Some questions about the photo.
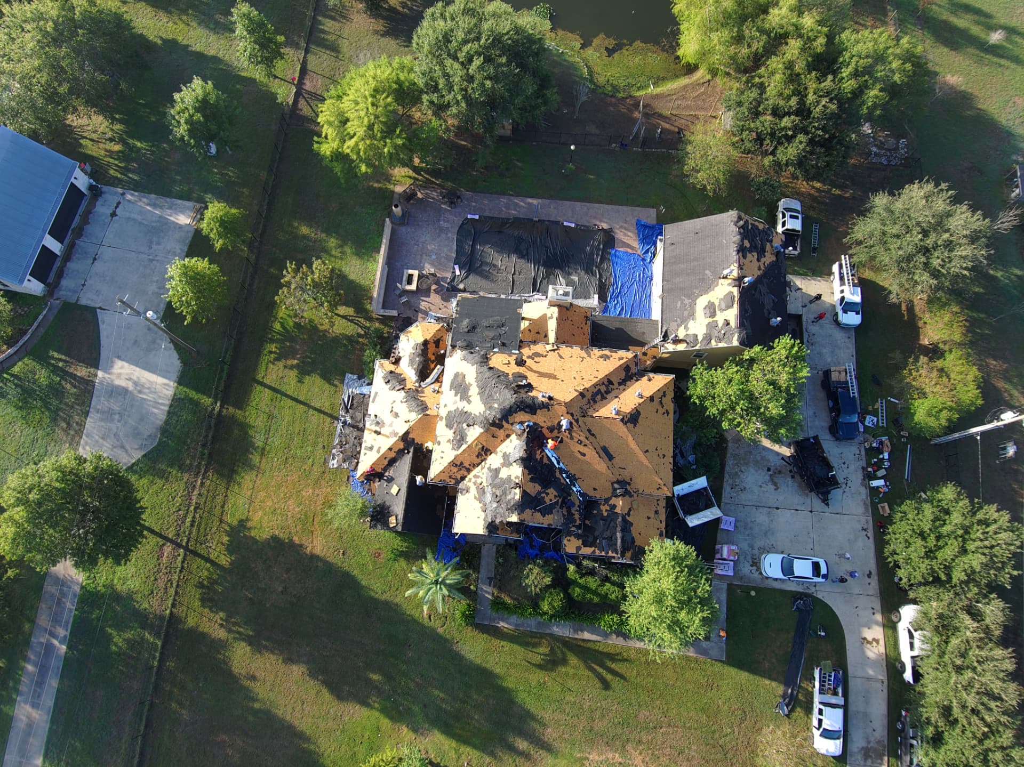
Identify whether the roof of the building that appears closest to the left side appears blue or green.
blue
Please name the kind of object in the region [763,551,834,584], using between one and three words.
car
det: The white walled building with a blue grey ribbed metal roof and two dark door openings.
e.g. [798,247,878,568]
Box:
[0,137,90,299]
